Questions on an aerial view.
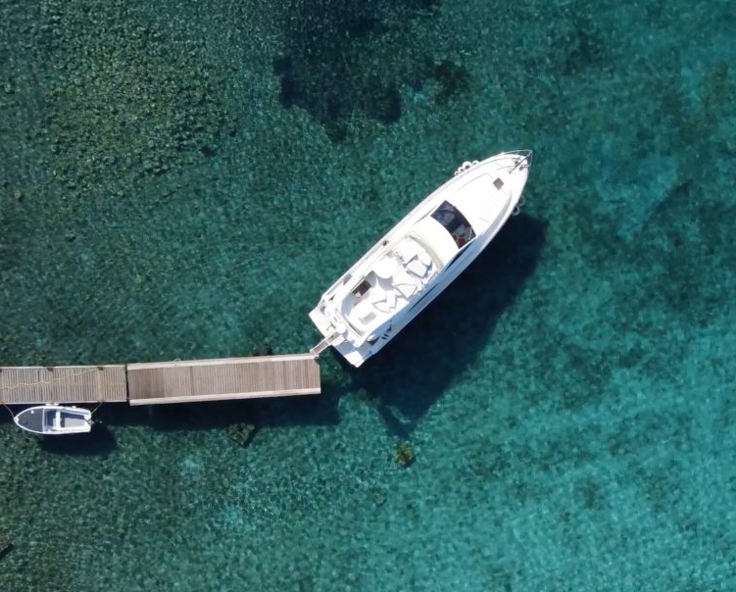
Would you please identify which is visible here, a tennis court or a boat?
boat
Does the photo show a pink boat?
No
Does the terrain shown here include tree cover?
No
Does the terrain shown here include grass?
No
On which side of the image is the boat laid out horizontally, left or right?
left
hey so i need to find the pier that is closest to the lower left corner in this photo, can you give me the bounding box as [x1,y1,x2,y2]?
[0,366,127,405]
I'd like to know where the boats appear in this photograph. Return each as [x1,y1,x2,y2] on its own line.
[13,405,99,434]
[310,151,529,365]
